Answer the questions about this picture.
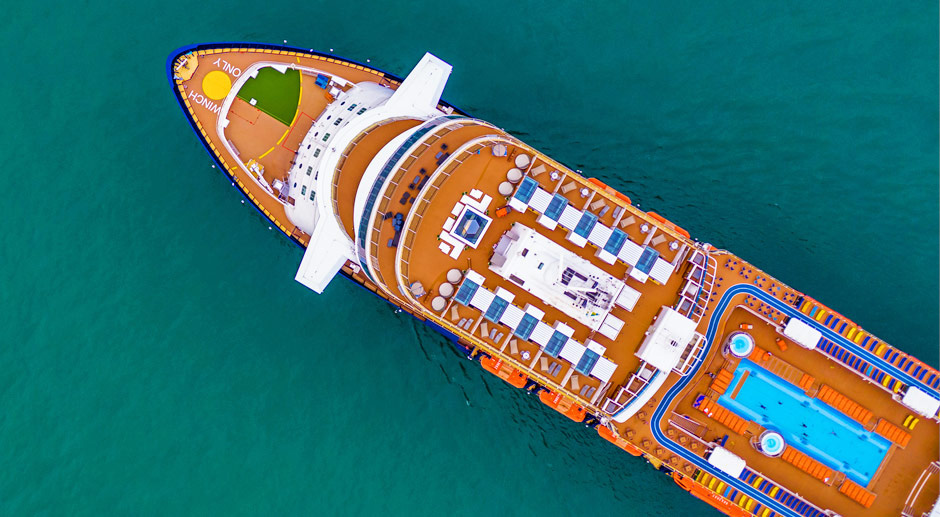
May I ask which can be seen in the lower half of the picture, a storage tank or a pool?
pool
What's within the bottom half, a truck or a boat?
boat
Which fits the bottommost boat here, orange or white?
orange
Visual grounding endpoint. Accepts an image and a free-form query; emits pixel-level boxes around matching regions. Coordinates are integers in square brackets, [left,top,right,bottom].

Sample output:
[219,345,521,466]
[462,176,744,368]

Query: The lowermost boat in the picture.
[675,470,756,517]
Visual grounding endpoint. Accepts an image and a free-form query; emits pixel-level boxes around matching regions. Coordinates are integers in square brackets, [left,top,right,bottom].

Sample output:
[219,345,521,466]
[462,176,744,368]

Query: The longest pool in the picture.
[691,344,912,509]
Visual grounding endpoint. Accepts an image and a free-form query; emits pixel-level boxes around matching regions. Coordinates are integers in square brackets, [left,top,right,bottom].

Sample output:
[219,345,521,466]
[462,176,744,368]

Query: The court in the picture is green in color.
[239,68,300,127]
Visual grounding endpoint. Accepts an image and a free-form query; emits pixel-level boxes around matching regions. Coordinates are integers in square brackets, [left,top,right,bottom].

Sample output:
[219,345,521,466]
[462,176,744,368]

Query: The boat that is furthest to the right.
[890,343,940,370]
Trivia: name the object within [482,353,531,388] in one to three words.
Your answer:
boat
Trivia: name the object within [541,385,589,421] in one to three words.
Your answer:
boat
